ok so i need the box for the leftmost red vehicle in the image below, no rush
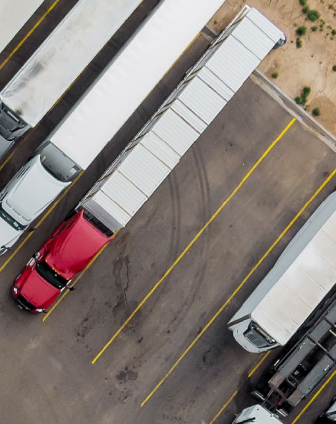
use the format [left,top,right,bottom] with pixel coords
[11,199,118,316]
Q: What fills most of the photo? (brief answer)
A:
paved ground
